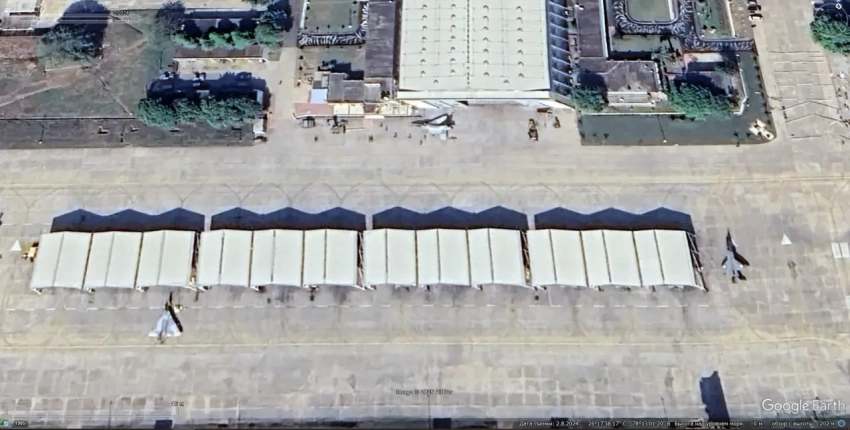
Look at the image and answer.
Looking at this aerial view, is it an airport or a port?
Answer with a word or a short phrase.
airport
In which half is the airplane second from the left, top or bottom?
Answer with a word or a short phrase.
top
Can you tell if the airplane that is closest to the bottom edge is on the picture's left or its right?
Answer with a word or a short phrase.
left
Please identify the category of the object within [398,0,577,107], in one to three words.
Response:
hangar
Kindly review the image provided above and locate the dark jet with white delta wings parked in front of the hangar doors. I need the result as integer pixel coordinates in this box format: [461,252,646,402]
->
[408,110,457,136]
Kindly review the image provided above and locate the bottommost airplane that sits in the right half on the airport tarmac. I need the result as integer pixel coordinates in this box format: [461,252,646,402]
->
[720,232,750,283]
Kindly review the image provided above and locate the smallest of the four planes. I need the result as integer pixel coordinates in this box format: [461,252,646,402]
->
[751,117,779,138]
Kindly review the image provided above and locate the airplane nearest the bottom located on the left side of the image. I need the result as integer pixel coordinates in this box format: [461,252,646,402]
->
[147,292,181,343]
